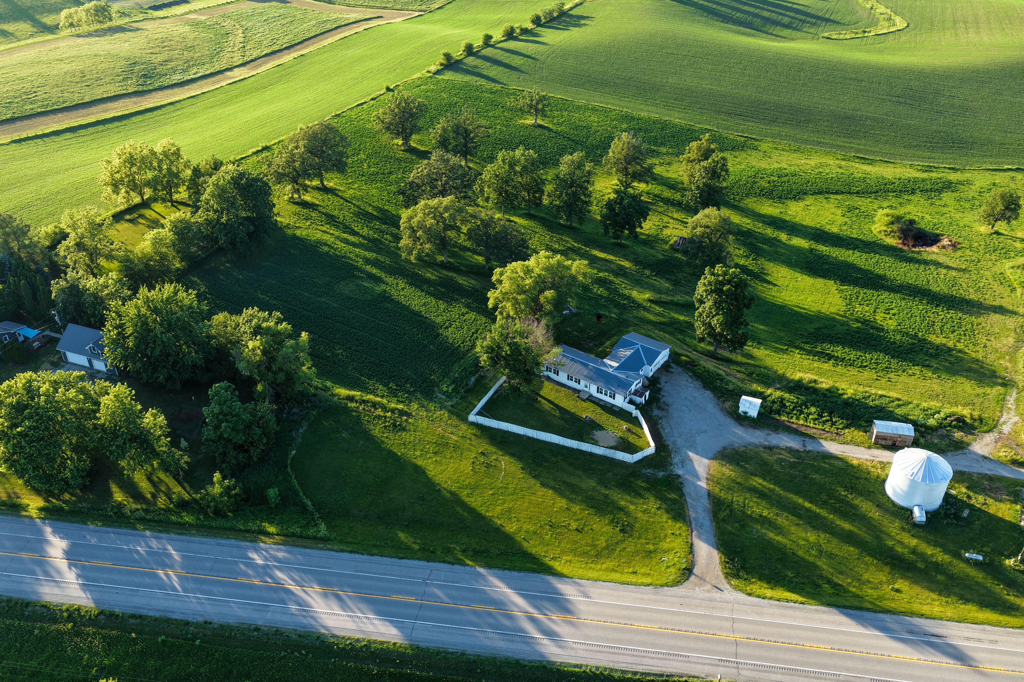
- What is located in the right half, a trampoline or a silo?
silo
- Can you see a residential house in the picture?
Yes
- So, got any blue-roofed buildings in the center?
Yes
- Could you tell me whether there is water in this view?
No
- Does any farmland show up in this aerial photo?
Yes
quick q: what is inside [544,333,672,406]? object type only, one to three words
house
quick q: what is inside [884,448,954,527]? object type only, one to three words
silo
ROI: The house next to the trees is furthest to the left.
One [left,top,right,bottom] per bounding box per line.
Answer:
[0,309,44,342]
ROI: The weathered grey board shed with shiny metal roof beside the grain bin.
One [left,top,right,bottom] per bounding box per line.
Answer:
[865,424,914,448]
